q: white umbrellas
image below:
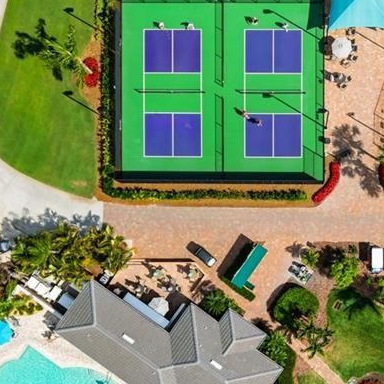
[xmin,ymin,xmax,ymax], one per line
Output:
[148,294,172,317]
[330,37,353,59]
